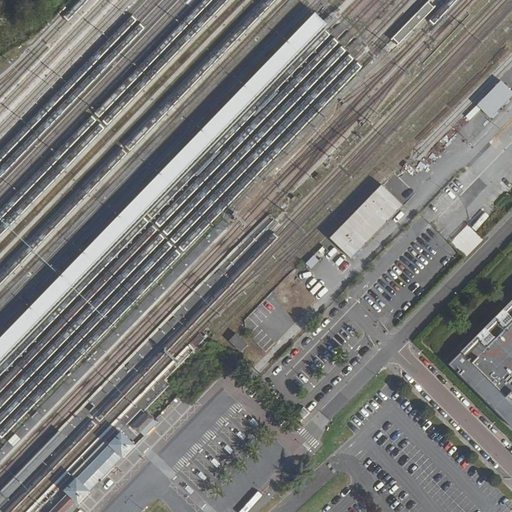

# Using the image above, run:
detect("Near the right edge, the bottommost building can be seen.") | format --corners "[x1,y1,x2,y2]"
[448,298,512,425]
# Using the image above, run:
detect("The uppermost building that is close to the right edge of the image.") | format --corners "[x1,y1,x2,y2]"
[478,81,512,118]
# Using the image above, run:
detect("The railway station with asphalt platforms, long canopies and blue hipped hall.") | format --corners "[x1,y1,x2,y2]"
[0,0,282,512]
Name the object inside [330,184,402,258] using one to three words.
building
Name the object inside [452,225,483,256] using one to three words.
building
